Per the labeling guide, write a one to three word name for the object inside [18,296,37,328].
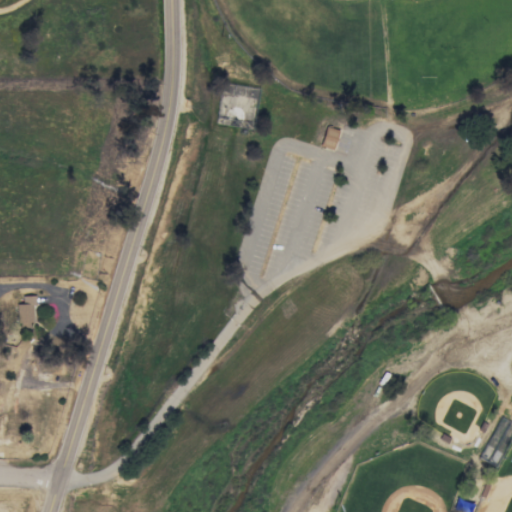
house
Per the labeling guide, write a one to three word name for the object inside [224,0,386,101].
baseball field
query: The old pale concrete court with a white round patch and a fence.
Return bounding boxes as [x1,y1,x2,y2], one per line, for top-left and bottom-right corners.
[218,84,260,128]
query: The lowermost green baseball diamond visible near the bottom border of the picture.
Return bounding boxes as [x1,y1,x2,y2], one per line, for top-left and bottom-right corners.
[341,444,465,512]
